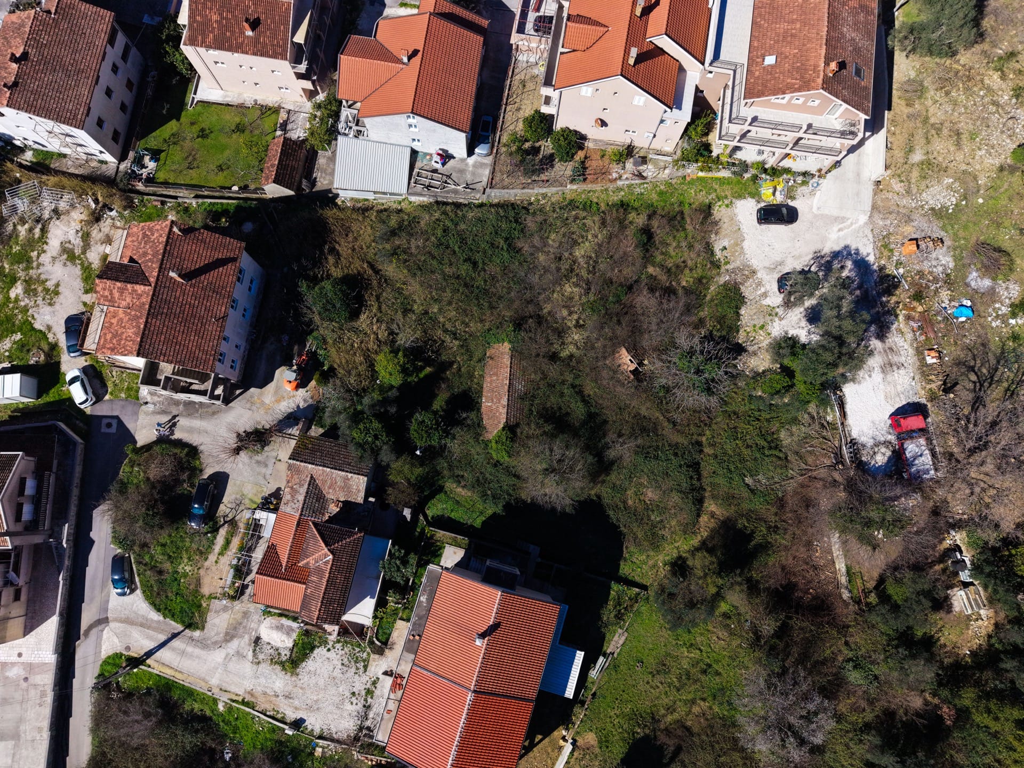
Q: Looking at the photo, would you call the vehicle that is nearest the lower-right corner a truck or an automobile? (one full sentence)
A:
What you see as the vehicle that is nearest the lower-right corner is a truck.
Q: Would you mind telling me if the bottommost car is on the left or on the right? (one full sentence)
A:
The bottommost car appears in the left half of the scene.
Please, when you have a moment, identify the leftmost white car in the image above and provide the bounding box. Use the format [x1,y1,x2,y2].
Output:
[67,367,95,408]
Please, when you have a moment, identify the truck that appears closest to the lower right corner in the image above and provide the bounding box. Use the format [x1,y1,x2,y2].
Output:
[888,414,940,483]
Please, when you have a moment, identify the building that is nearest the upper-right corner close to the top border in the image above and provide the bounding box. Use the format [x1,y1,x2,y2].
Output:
[694,0,880,160]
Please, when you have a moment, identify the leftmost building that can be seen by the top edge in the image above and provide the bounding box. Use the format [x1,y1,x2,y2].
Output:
[0,0,145,159]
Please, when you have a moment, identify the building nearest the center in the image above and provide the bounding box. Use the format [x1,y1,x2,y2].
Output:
[481,344,523,435]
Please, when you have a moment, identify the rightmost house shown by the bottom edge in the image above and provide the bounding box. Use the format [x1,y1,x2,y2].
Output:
[368,543,585,768]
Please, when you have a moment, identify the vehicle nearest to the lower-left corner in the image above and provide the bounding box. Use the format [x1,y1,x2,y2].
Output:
[108,553,134,596]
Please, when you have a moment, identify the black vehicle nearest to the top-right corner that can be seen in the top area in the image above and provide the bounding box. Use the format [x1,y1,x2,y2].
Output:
[756,205,797,226]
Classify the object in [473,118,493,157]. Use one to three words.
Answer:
car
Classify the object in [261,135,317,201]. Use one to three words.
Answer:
shed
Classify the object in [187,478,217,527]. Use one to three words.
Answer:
car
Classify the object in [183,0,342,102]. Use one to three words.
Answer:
house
